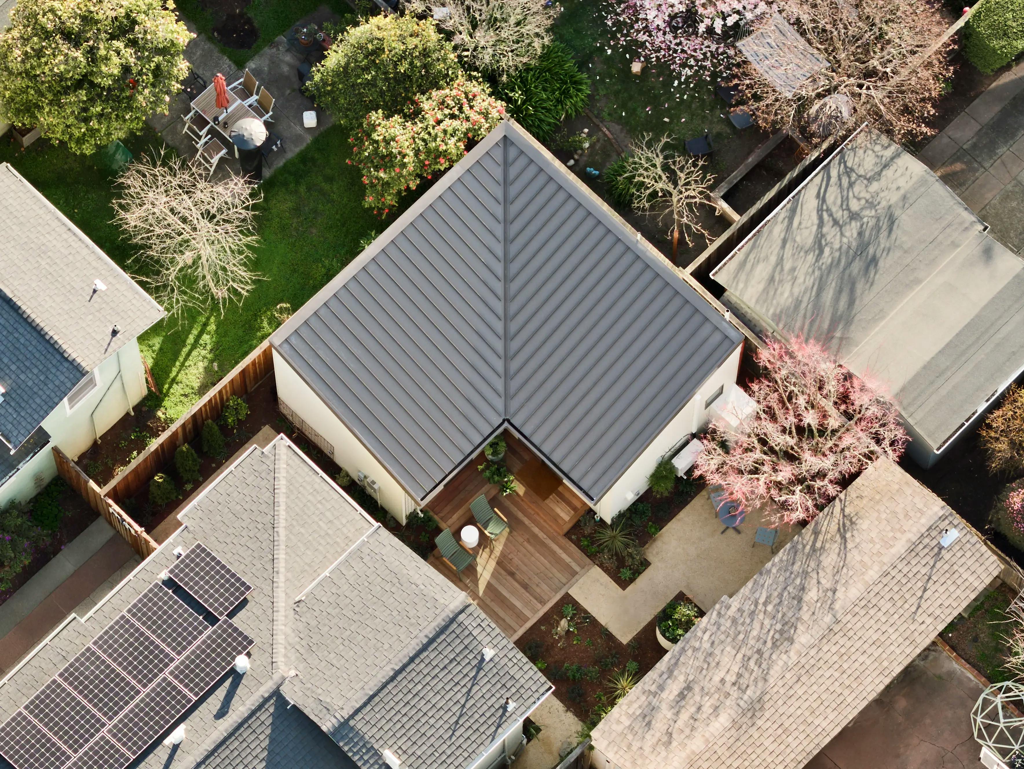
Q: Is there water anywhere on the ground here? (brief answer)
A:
No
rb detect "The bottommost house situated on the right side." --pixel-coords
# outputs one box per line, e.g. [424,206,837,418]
[588,456,1008,769]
